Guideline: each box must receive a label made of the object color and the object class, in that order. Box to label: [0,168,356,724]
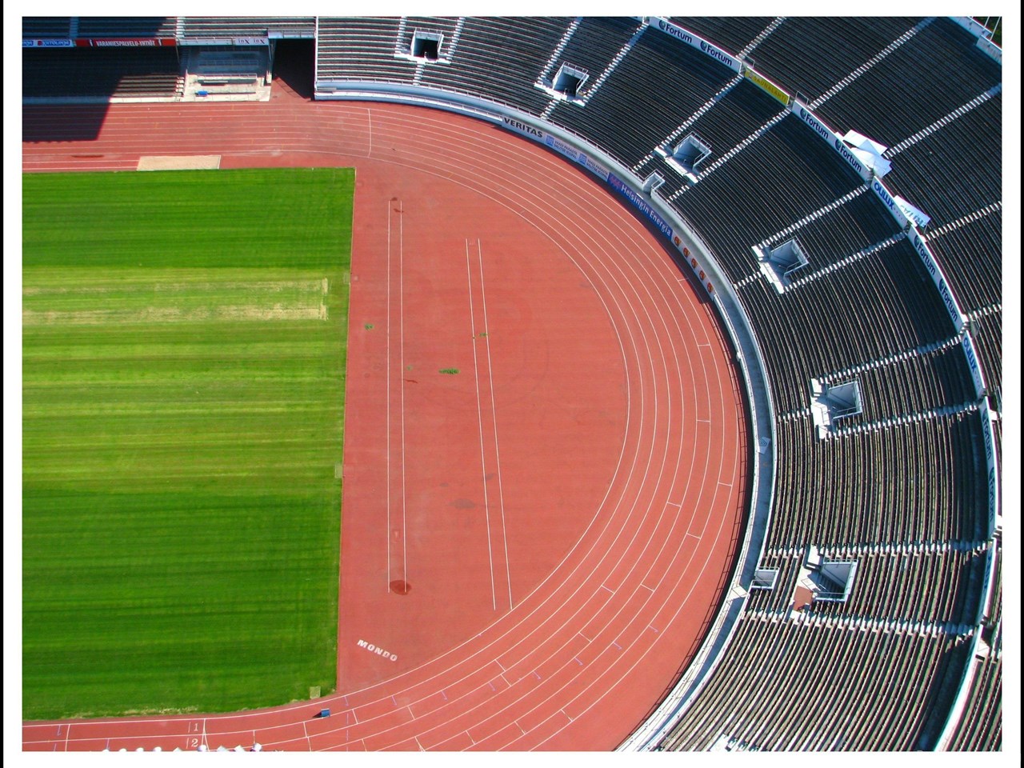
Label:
green soccer field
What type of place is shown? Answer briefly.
sports ground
